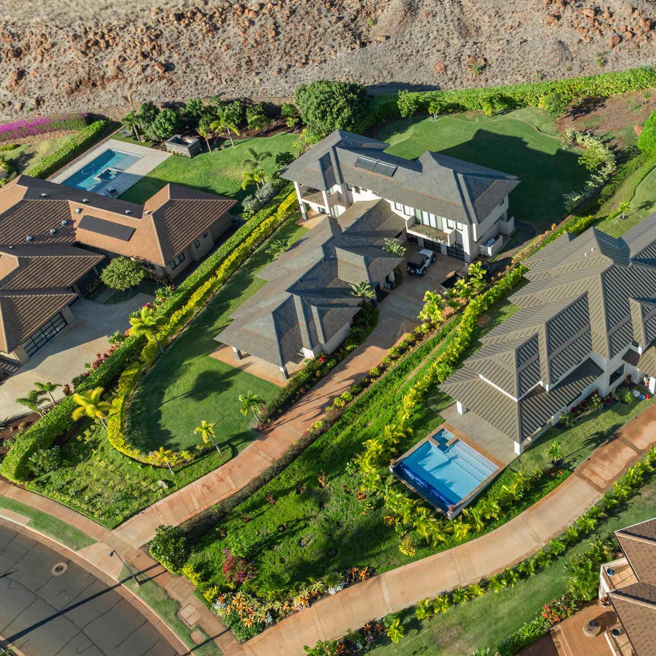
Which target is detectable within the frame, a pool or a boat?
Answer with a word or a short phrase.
pool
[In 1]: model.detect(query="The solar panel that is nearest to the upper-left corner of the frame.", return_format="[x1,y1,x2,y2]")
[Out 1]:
[77,215,135,241]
